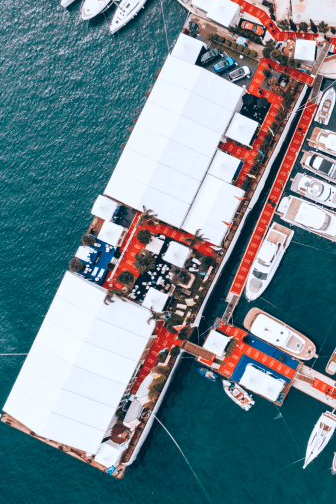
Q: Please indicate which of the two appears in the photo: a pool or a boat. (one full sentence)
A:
The one in the frame is a boat.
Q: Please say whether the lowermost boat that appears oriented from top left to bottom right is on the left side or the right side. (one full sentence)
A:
The lowermost boat that appears oriented from top left to bottom right is on the right side of the image.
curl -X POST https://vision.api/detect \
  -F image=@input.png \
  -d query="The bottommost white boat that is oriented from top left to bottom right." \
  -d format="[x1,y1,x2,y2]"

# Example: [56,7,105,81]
[222,381,256,412]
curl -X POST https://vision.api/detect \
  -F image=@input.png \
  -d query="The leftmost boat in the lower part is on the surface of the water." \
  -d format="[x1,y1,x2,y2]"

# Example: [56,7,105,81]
[197,368,220,382]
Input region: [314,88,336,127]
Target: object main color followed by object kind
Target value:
white boat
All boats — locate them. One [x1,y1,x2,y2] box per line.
[325,349,336,375]
[246,225,293,302]
[287,174,336,209]
[302,412,336,469]
[222,381,256,412]
[303,129,336,158]
[197,368,220,382]
[275,196,336,243]
[81,0,114,21]
[102,0,146,35]
[298,153,336,186]
[245,309,320,361]
[314,88,336,127]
